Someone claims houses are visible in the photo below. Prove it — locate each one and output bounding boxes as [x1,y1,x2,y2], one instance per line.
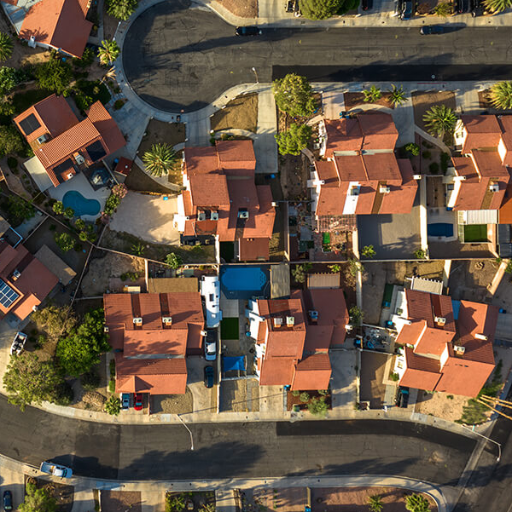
[1,0,97,58]
[305,114,422,232]
[248,273,353,391]
[178,139,277,260]
[14,93,126,191]
[386,276,499,398]
[103,276,207,400]
[0,217,76,322]
[439,115,512,224]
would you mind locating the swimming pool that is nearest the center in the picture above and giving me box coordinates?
[223,268,268,290]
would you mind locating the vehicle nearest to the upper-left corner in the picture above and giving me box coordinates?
[234,24,261,38]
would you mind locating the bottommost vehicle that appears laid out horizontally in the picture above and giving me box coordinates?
[39,460,72,478]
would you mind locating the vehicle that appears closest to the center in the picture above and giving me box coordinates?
[202,271,222,327]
